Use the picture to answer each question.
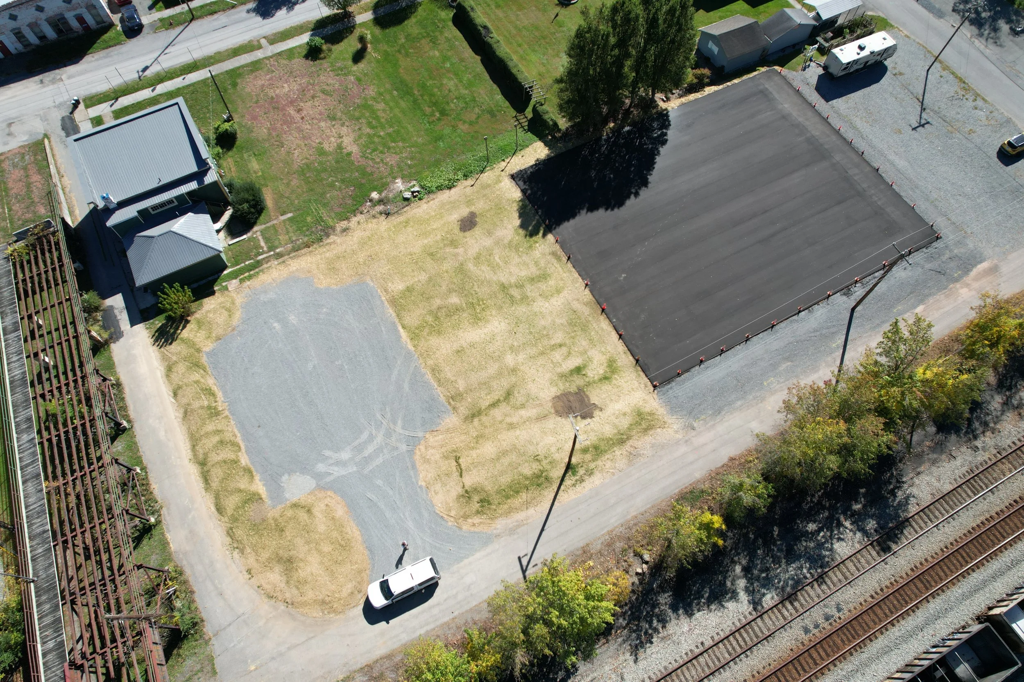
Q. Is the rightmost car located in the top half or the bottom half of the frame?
top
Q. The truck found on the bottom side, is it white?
Yes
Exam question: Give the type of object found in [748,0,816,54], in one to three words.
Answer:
shed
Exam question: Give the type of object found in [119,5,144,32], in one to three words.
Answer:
car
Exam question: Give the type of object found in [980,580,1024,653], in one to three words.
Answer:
rail car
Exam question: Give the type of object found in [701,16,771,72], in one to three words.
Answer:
shed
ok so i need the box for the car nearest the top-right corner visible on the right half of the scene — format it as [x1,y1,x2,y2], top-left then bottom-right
[994,123,1024,152]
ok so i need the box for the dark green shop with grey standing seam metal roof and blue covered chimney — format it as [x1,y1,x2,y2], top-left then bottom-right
[66,97,230,295]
